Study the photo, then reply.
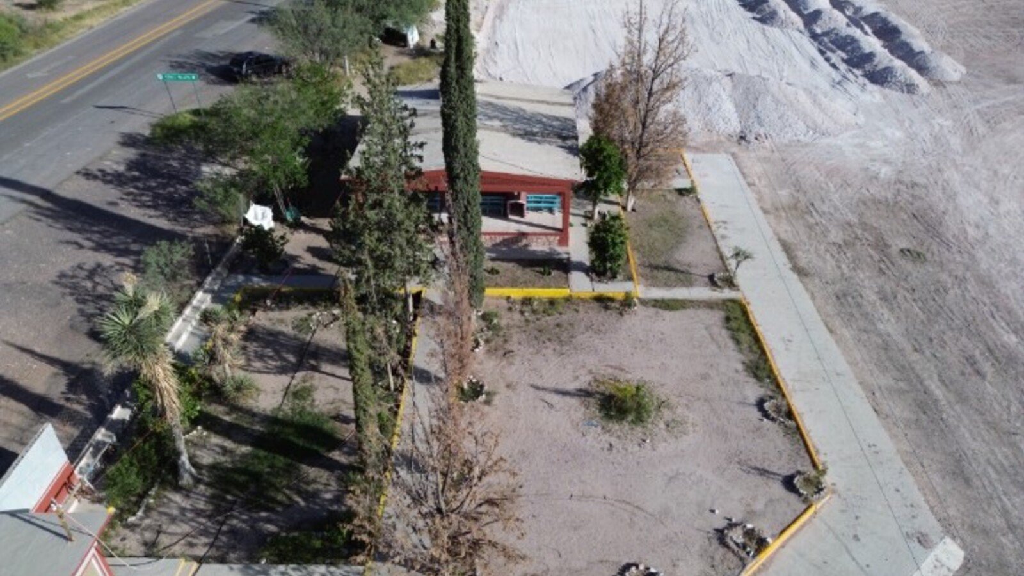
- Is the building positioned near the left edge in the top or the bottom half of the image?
bottom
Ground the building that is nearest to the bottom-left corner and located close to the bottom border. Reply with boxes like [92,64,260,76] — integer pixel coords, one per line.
[0,424,118,576]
